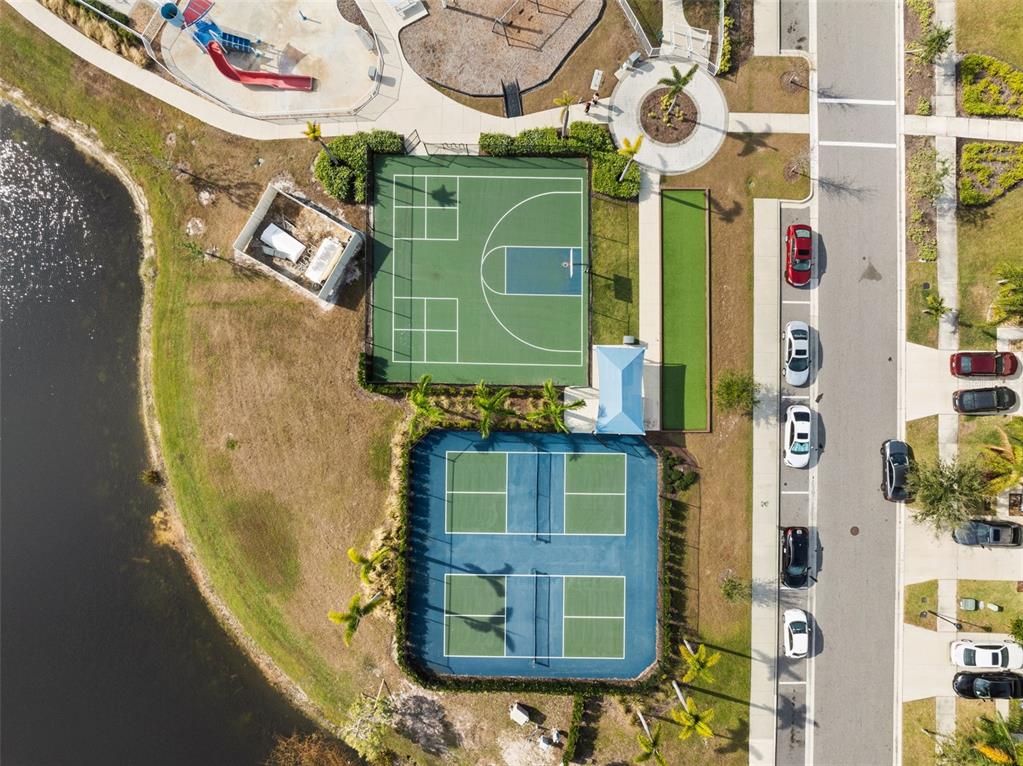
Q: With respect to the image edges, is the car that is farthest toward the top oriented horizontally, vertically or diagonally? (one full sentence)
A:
The car that is farthest toward the top is oriented vertically.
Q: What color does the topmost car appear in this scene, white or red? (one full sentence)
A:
In this view, the topmost car is red.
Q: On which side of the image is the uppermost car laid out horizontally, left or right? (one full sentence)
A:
It is on the right.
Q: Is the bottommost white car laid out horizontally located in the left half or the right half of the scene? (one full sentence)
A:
The bottommost white car laid out horizontally sits on the right side.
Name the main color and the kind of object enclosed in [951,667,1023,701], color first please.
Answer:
black car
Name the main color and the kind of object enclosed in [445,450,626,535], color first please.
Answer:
green sports court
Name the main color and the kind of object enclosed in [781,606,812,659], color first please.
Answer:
white car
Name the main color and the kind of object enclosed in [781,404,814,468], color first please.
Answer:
white car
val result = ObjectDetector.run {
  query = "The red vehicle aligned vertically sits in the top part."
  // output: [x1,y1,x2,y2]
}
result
[783,223,815,288]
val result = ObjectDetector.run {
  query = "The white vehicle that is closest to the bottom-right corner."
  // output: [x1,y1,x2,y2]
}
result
[950,636,1023,671]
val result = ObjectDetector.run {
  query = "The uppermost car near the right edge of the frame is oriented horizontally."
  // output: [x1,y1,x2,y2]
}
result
[950,349,1017,380]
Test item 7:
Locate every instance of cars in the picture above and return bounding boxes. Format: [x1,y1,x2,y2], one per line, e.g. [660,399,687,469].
[879,439,915,503]
[781,404,814,468]
[781,606,812,659]
[780,526,813,588]
[950,636,1023,671]
[950,349,1017,380]
[951,384,1017,414]
[947,517,1023,548]
[783,223,815,288]
[780,321,812,386]
[951,667,1023,701]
